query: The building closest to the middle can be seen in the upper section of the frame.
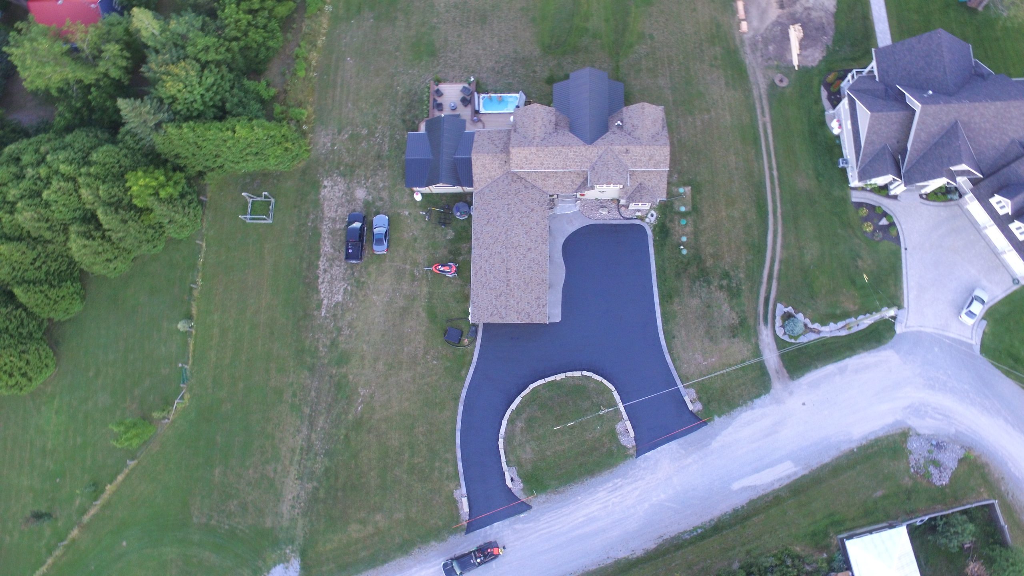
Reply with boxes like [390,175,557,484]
[469,67,670,324]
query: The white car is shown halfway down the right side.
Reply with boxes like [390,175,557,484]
[954,285,991,331]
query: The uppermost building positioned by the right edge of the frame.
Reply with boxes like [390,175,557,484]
[834,29,1024,278]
